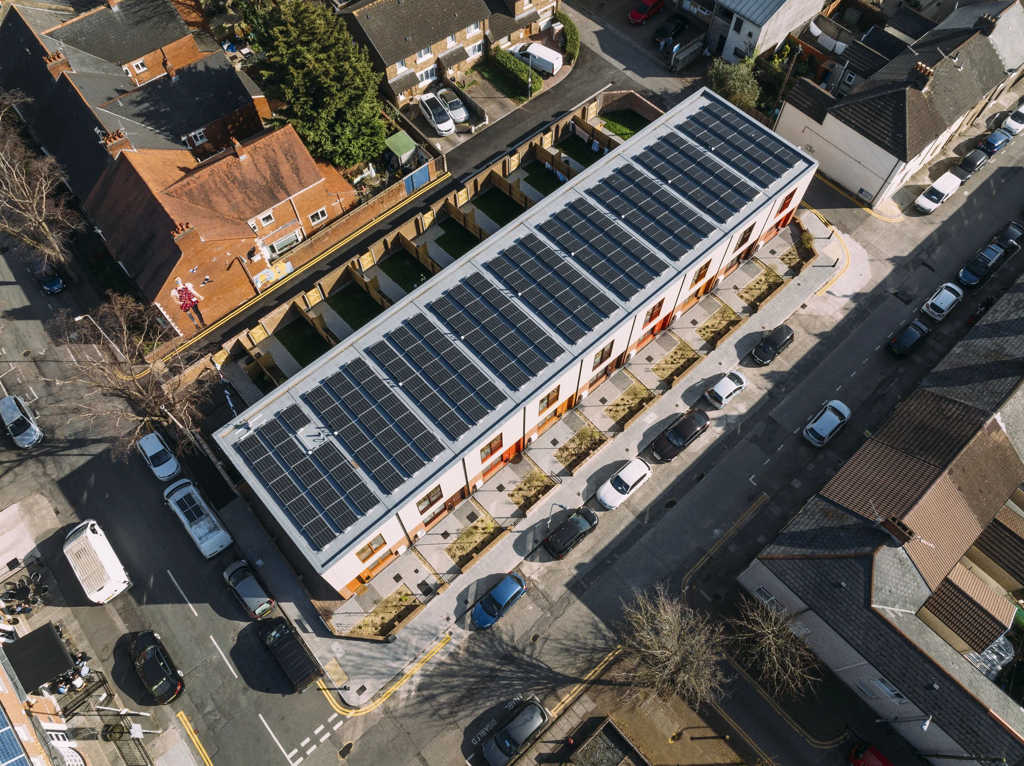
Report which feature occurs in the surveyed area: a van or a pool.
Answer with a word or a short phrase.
van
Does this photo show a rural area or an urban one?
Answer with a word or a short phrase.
urban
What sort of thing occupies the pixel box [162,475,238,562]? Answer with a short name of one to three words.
van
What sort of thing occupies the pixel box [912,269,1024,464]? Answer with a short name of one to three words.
house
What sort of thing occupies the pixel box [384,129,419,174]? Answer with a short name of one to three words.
shed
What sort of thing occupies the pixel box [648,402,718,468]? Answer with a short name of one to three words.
car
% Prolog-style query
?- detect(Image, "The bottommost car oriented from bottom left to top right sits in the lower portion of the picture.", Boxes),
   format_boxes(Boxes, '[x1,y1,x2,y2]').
[473,688,553,766]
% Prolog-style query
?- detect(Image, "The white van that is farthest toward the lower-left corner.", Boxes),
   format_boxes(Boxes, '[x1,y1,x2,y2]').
[60,517,137,611]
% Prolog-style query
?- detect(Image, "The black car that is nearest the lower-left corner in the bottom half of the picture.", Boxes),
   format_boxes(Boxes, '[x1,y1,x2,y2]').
[127,623,189,711]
